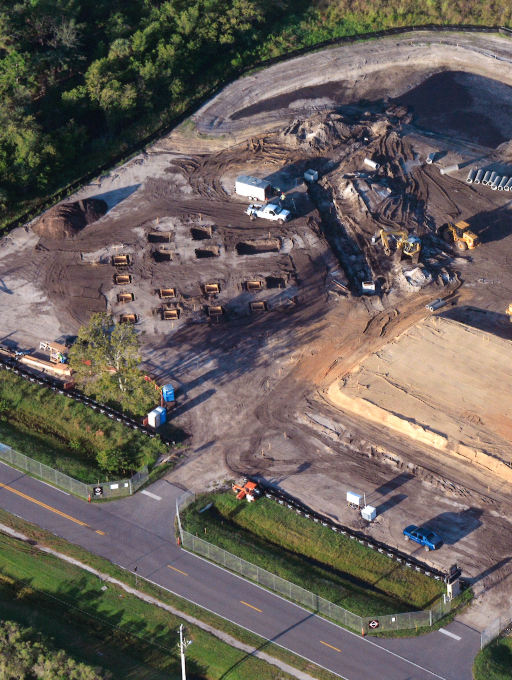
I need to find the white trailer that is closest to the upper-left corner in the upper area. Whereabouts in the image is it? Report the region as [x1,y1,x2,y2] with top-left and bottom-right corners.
[228,174,279,204]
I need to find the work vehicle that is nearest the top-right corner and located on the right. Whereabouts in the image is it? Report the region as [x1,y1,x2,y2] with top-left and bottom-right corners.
[435,219,481,251]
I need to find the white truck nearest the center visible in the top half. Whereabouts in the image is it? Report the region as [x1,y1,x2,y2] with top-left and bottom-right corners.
[248,202,293,224]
